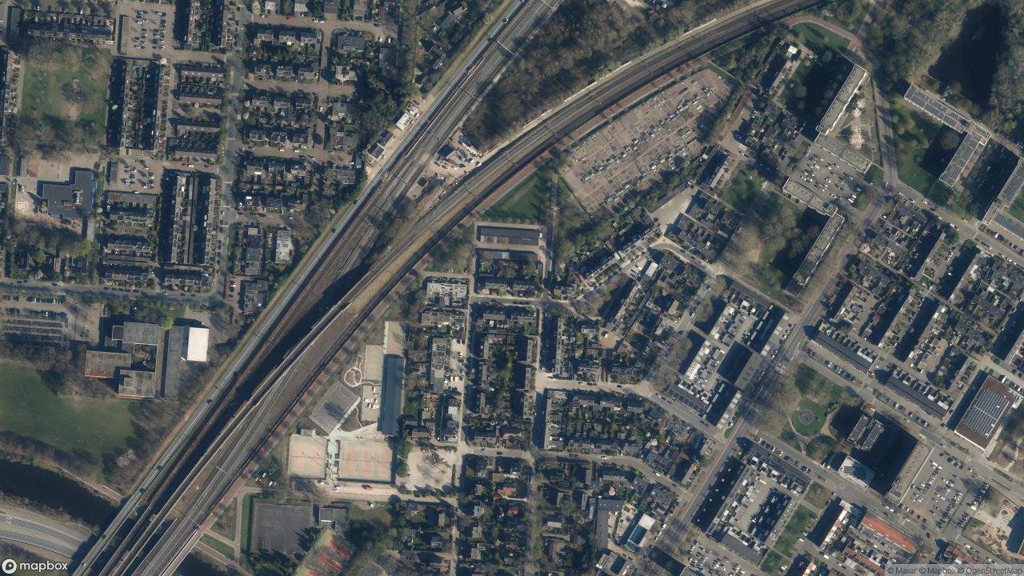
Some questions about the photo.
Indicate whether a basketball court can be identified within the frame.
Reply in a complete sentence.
Yes, there's a basketball court down there.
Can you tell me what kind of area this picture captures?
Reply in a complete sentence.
What you see here is a residential area.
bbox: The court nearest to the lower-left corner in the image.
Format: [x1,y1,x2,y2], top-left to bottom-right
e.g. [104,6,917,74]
[250,504,312,553]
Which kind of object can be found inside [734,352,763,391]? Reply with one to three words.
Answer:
building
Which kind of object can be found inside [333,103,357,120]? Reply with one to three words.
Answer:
house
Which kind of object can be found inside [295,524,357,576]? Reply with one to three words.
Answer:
tennis court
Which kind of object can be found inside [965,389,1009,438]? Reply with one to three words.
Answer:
solar array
